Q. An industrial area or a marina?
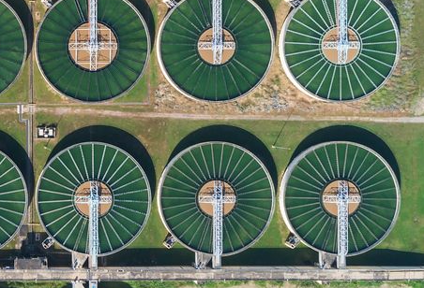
industrial area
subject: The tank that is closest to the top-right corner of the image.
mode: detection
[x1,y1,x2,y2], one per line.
[279,0,399,102]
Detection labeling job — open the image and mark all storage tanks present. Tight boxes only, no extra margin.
[157,140,275,268]
[279,140,399,267]
[0,0,28,95]
[279,0,399,102]
[35,0,151,103]
[35,142,151,268]
[157,0,275,102]
[0,150,28,248]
